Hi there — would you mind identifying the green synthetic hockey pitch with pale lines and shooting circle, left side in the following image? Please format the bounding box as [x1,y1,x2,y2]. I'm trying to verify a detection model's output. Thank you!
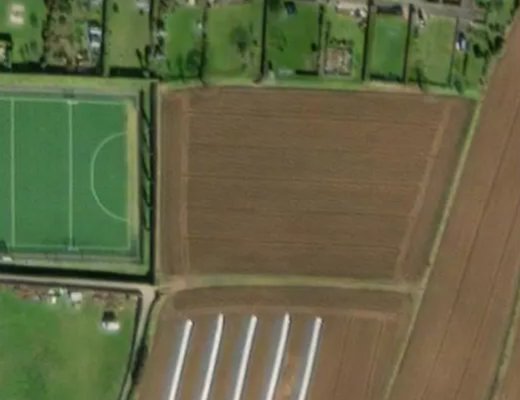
[0,88,141,262]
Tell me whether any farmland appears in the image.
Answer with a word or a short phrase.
Yes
